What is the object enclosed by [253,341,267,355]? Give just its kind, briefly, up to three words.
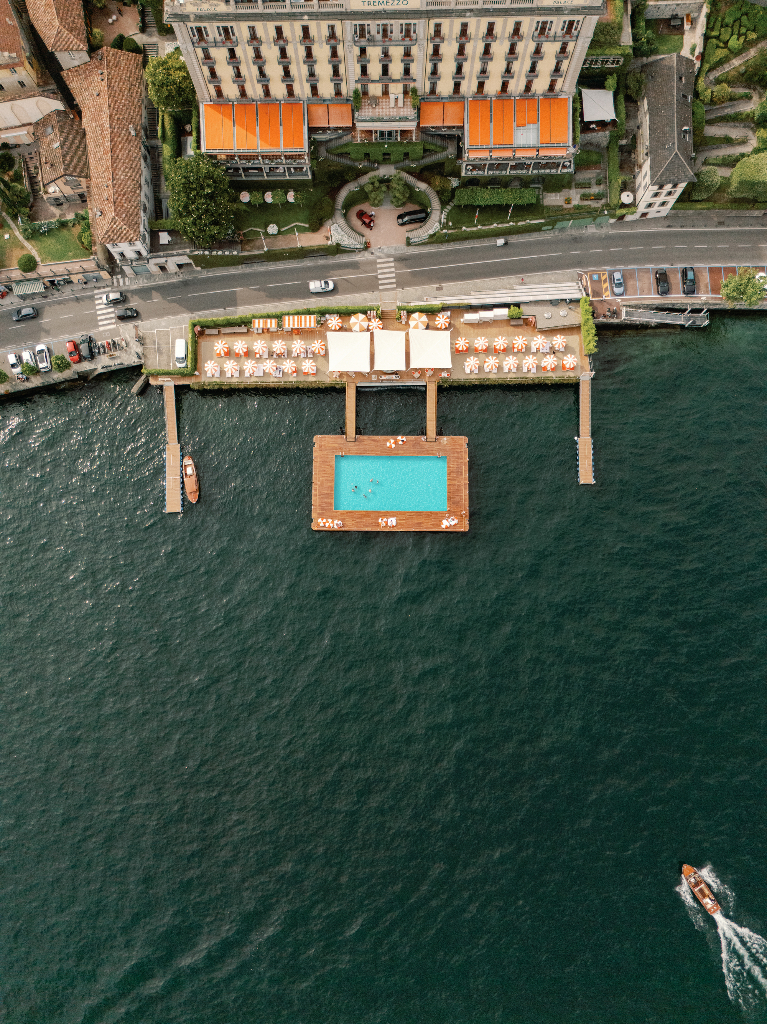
umbrella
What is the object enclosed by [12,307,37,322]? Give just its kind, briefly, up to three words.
car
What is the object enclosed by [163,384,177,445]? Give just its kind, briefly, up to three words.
pier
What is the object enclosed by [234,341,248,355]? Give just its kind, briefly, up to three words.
umbrella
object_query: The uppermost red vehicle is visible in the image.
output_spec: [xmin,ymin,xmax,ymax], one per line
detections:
[357,211,374,228]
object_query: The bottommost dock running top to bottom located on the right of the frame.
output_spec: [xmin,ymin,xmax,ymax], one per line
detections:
[575,436,597,486]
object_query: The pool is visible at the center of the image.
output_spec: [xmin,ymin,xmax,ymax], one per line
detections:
[312,426,469,532]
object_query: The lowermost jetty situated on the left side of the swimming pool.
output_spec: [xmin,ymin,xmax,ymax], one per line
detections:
[161,444,184,513]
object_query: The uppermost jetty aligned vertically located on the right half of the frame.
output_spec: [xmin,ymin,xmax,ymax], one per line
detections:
[579,378,593,439]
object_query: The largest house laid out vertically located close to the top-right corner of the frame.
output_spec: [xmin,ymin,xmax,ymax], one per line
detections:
[630,53,698,214]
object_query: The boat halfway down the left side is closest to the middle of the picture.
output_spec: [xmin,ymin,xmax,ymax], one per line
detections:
[183,457,197,502]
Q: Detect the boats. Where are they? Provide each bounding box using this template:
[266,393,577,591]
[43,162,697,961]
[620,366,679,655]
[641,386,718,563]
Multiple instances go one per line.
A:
[183,457,197,502]
[681,862,725,920]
